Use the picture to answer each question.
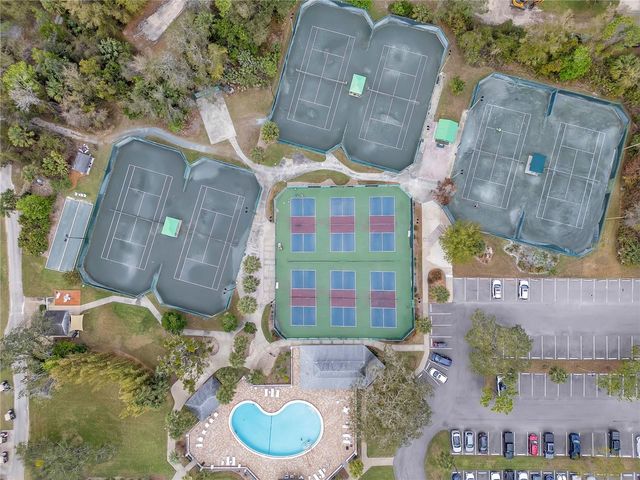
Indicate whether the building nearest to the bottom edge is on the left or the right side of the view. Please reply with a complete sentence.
The building nearest to the bottom edge sits on the left side.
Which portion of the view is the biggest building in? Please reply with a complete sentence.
The biggest building sits in the bottom section of the image.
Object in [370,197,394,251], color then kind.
blue sports court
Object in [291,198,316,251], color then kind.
blue sports court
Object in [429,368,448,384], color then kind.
white car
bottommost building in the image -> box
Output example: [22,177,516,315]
[185,375,228,421]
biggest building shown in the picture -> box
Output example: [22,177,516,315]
[299,344,382,389]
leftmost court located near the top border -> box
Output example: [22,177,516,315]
[269,4,372,153]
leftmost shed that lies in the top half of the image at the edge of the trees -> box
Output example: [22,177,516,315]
[73,152,95,174]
